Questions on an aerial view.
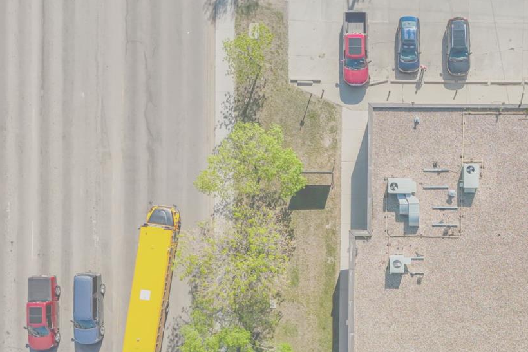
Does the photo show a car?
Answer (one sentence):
Yes, there is a car in the image.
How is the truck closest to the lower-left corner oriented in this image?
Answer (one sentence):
In this picture, the truck closest to the lower-left corner lies vertically.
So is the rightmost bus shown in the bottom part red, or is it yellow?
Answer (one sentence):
In this view, the rightmost bus shown in the bottom part is yellow.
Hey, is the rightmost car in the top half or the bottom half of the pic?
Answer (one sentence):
Seen from above, the rightmost car lies in the top half of the view.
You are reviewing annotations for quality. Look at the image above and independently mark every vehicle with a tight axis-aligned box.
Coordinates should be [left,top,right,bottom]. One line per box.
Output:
[340,11,371,87]
[122,202,187,352]
[393,16,422,75]
[72,273,108,343]
[25,274,62,351]
[444,17,474,77]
